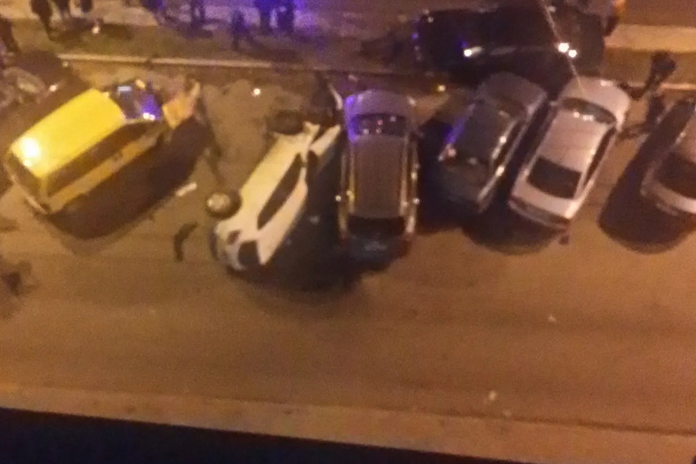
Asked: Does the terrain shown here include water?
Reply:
No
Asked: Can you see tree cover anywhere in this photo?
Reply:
No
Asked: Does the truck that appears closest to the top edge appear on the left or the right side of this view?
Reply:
right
